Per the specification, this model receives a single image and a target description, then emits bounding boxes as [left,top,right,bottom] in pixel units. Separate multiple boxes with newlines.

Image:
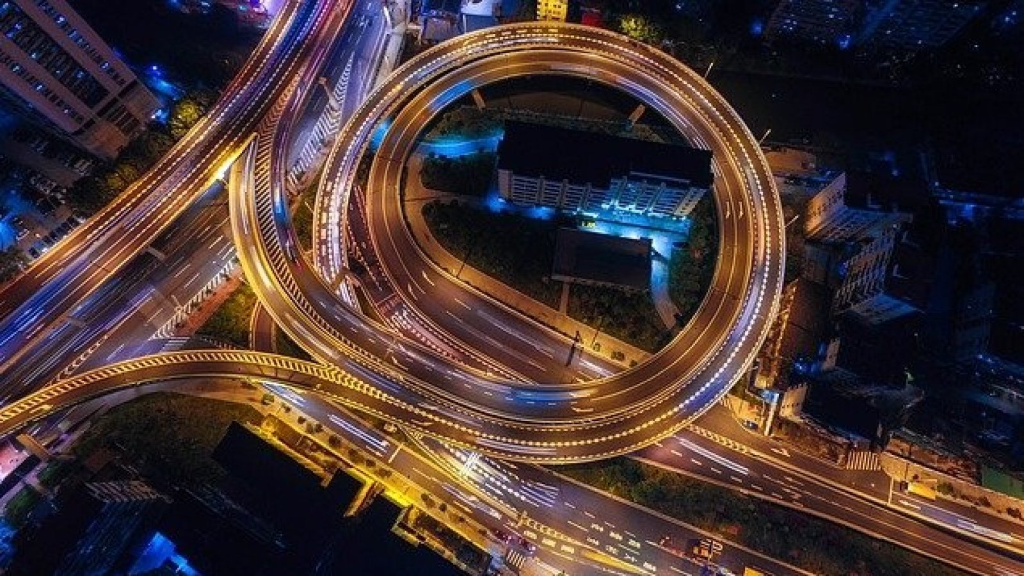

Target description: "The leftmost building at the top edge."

[0,0,162,154]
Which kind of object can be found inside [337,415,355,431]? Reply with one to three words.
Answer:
car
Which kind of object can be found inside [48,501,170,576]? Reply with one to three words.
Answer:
building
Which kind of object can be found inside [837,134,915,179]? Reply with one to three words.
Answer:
house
